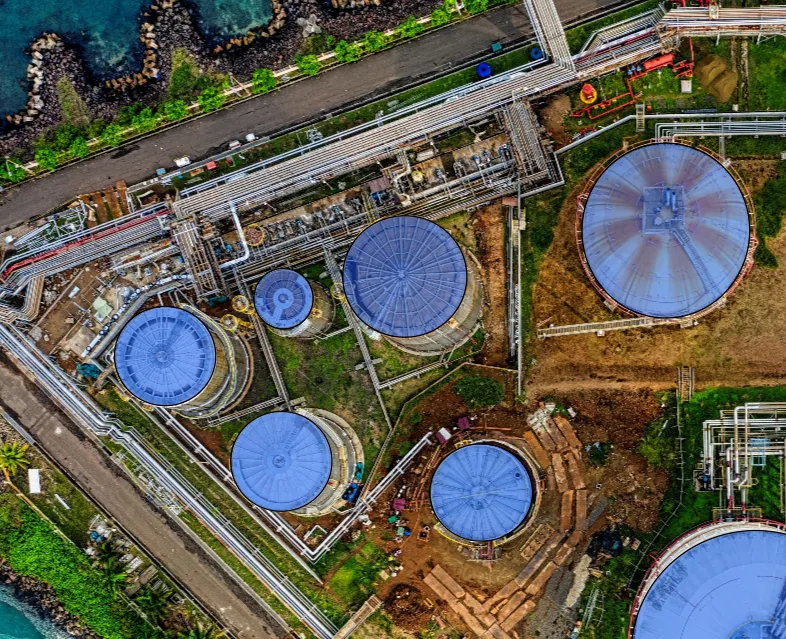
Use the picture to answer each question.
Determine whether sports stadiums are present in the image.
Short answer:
No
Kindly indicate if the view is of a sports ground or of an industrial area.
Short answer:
industrial area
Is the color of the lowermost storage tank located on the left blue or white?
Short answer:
blue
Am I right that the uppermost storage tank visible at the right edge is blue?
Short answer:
Yes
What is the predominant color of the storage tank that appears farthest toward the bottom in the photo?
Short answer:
blue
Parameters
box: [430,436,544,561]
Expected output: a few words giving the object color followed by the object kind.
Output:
blue storage tank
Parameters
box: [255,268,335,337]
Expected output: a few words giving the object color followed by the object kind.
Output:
blue storage tank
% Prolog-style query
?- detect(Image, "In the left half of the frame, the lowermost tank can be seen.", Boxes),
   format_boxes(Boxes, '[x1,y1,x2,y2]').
[230,403,358,512]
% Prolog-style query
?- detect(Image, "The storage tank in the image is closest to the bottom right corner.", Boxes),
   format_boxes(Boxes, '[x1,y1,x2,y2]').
[625,520,786,639]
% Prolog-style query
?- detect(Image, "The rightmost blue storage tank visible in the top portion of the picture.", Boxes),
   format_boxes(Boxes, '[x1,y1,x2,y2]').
[576,135,761,326]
